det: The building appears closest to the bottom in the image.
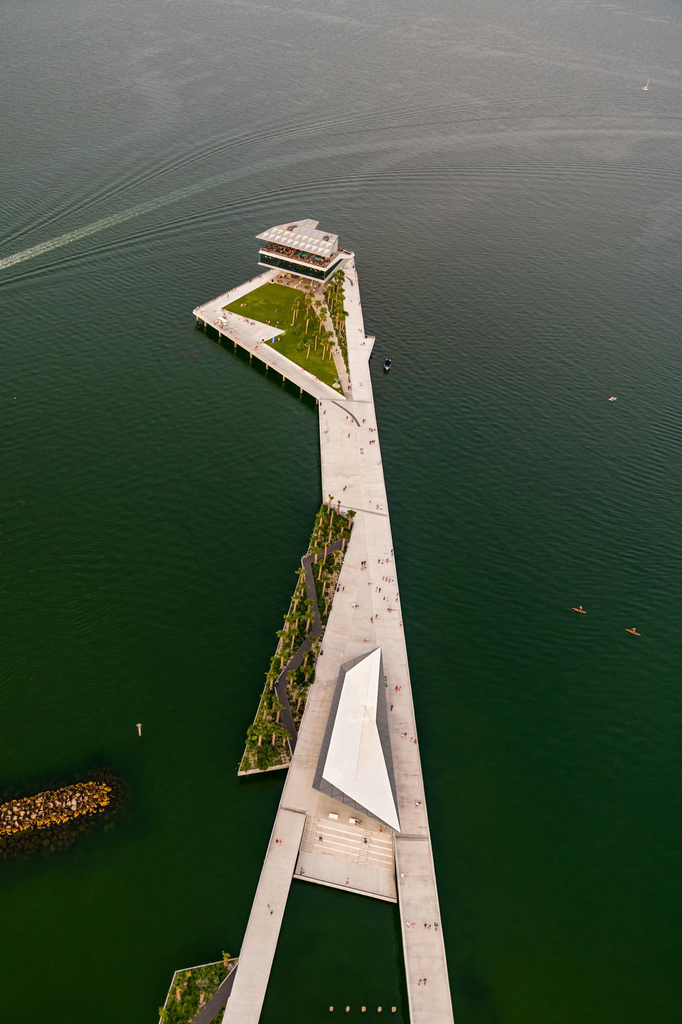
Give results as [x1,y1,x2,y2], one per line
[311,646,401,834]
